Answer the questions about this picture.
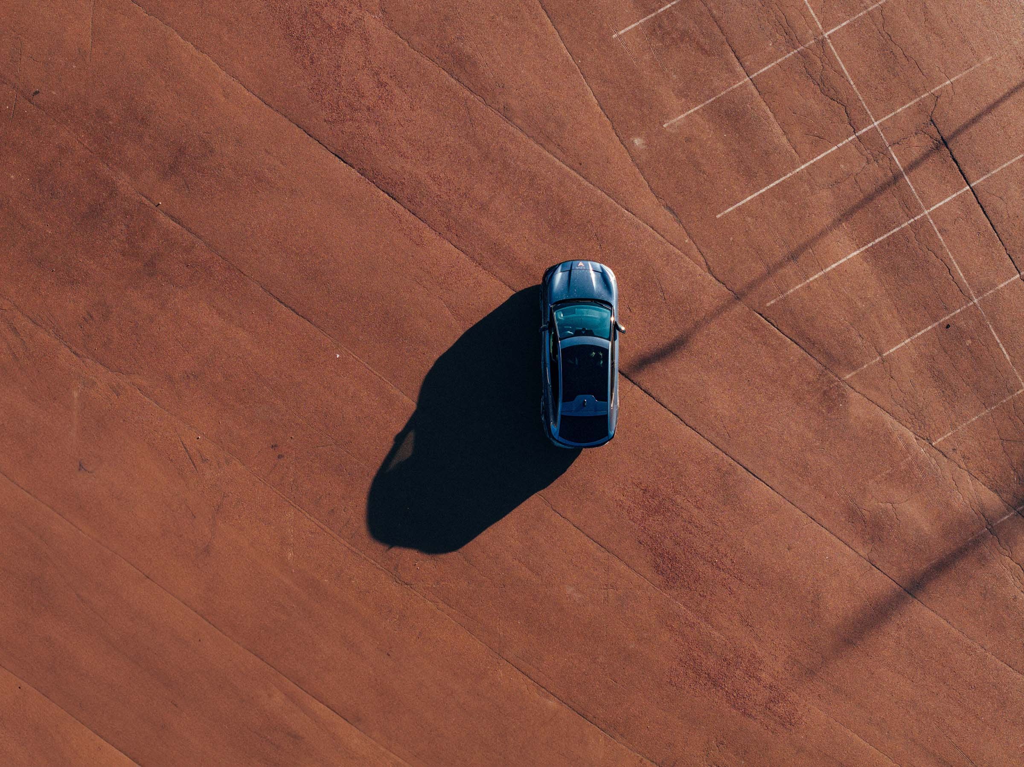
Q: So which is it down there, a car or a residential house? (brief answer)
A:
car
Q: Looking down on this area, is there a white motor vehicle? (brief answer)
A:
No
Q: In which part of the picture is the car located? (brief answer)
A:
center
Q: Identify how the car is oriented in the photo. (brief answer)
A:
from top to bottom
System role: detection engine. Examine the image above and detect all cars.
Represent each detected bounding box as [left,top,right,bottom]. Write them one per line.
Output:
[537,260,627,449]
